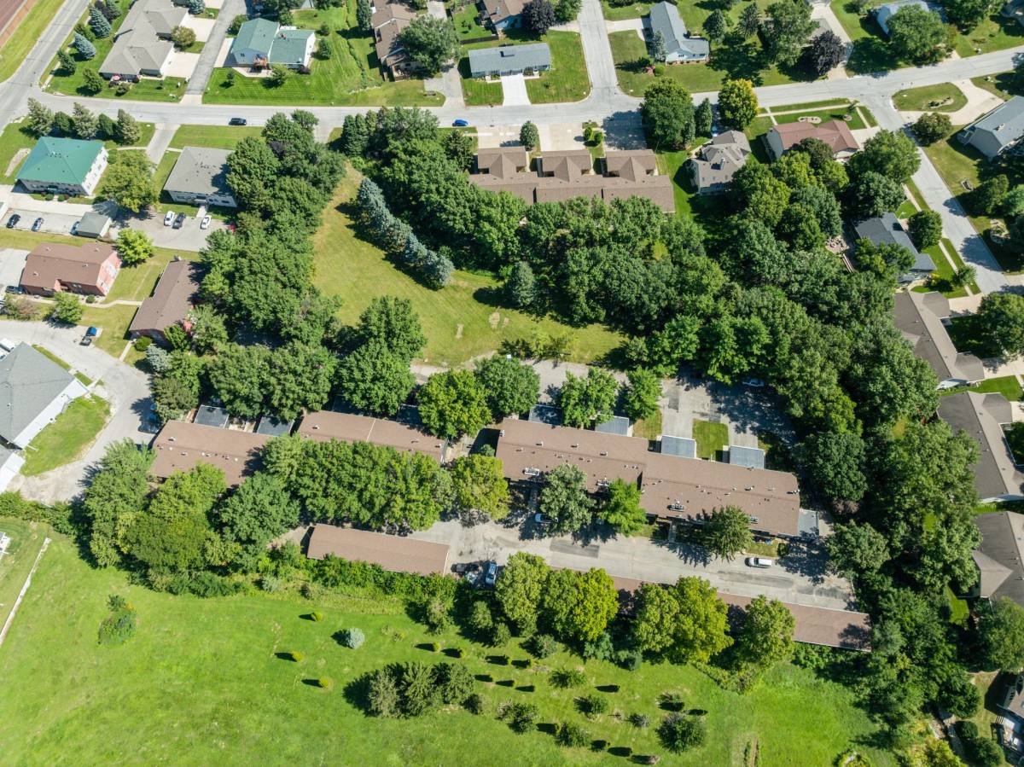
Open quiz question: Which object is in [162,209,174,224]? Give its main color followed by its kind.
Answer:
white vehicle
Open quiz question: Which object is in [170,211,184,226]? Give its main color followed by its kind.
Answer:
gray car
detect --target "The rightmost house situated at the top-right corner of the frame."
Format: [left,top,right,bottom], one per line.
[964,86,1024,156]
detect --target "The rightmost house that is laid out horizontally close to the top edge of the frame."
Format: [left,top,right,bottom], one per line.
[868,0,937,35]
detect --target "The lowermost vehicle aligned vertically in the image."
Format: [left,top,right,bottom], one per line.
[483,553,499,587]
